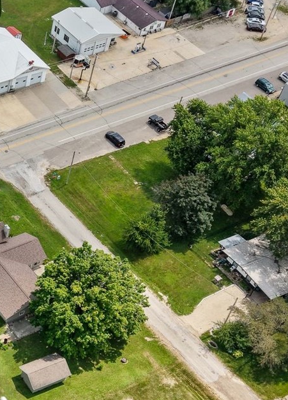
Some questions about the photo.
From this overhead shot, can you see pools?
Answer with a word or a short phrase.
No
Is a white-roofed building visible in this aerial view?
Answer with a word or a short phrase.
Yes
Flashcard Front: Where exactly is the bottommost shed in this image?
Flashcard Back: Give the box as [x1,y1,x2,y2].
[20,354,70,395]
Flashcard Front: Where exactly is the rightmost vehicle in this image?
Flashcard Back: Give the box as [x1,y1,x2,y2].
[275,68,288,82]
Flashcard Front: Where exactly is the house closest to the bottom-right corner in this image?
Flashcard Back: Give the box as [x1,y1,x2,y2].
[217,231,288,308]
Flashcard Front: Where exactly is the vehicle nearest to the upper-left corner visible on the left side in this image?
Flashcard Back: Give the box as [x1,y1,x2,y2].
[104,132,127,147]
